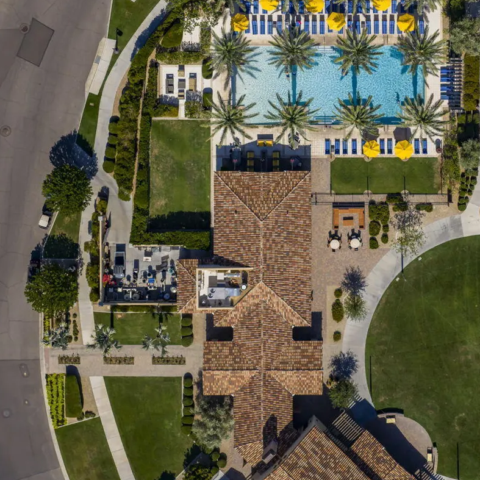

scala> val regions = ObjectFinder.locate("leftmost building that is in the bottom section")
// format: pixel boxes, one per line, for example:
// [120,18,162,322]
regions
[176,169,323,467]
